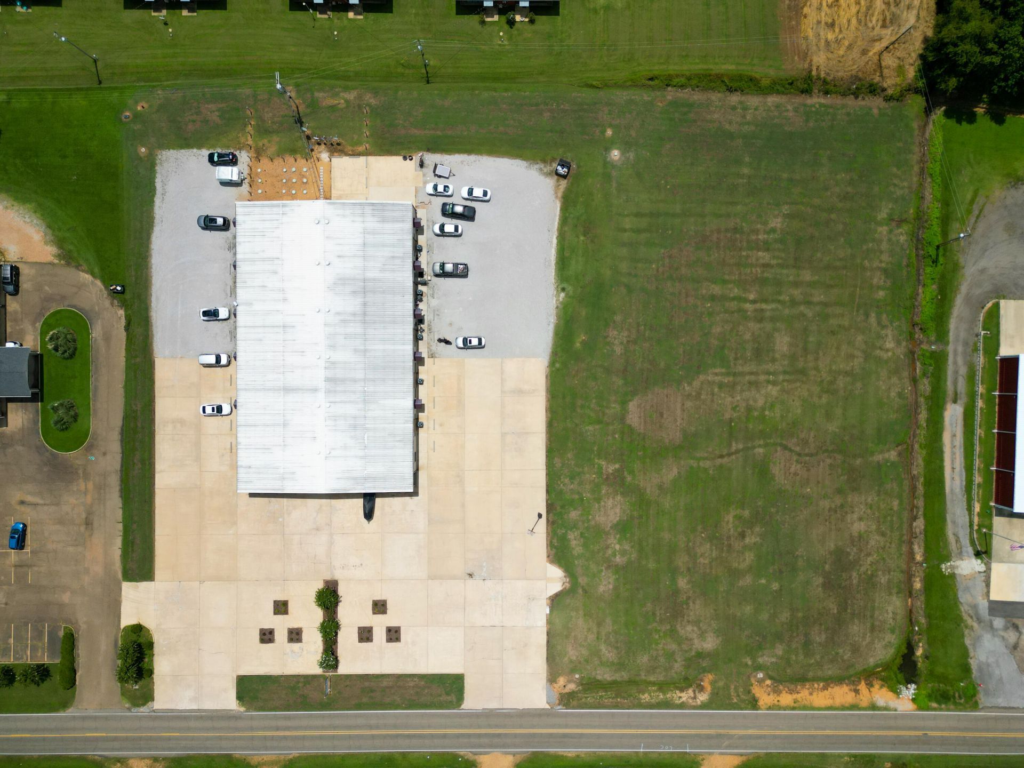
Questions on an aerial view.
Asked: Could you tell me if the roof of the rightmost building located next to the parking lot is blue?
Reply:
No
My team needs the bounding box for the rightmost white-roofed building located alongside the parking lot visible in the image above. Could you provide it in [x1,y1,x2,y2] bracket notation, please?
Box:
[232,198,423,495]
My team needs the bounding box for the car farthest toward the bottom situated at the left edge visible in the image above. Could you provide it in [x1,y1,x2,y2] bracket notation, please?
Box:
[10,522,26,550]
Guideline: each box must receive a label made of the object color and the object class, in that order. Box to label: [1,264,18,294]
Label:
black car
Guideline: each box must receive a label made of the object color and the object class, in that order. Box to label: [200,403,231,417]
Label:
white car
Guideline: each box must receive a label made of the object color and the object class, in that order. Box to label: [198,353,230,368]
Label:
white vehicle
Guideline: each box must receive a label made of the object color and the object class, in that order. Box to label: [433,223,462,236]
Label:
white vehicle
